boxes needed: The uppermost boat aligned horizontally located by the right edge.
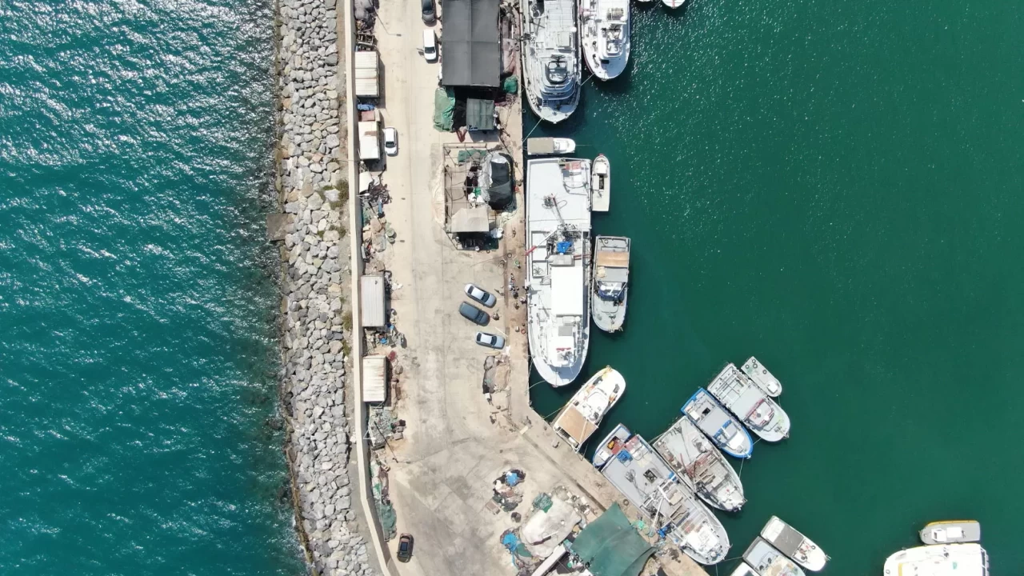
[918,520,980,545]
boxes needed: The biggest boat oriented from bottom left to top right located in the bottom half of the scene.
[552,365,622,449]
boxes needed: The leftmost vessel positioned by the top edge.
[520,0,584,123]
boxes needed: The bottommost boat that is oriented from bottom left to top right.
[595,425,631,468]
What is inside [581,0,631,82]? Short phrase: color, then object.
white vessel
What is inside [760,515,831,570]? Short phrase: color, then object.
white boat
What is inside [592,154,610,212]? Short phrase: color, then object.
white boat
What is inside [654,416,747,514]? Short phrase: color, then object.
white vessel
